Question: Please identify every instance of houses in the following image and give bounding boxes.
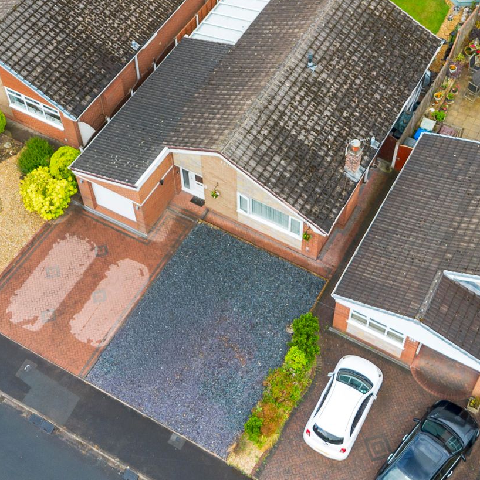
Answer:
[65,0,446,258]
[329,129,480,395]
[0,0,204,147]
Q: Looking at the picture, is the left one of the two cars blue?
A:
No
